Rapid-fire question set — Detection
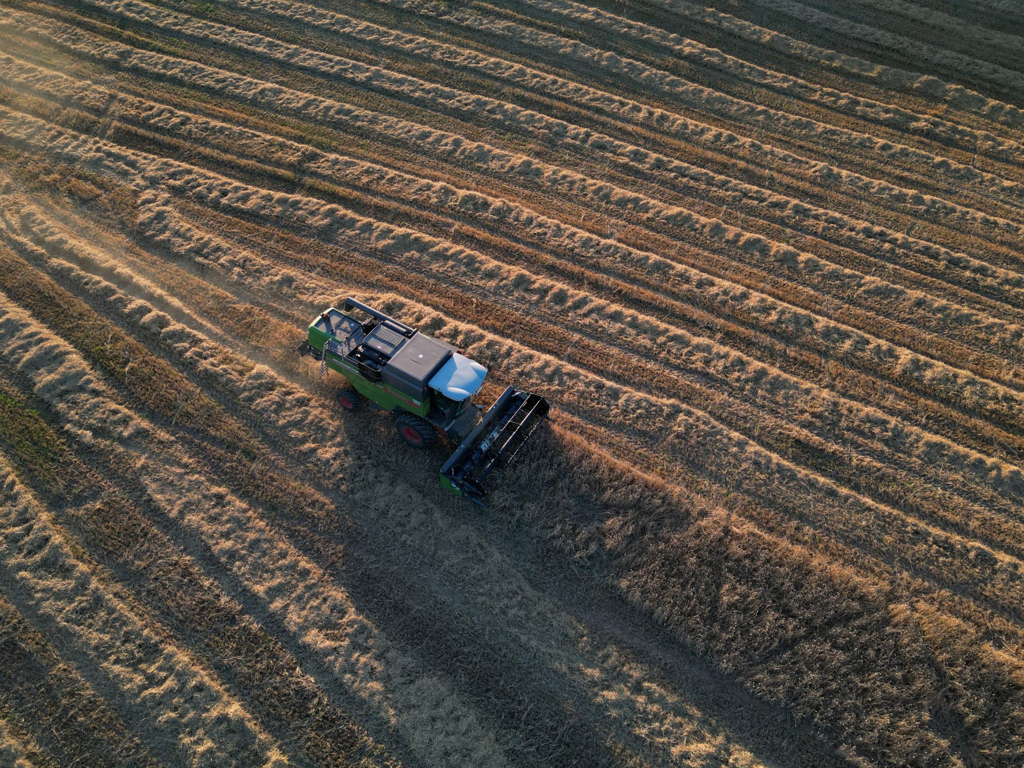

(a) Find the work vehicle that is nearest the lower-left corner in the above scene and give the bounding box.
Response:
[297,296,554,509]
